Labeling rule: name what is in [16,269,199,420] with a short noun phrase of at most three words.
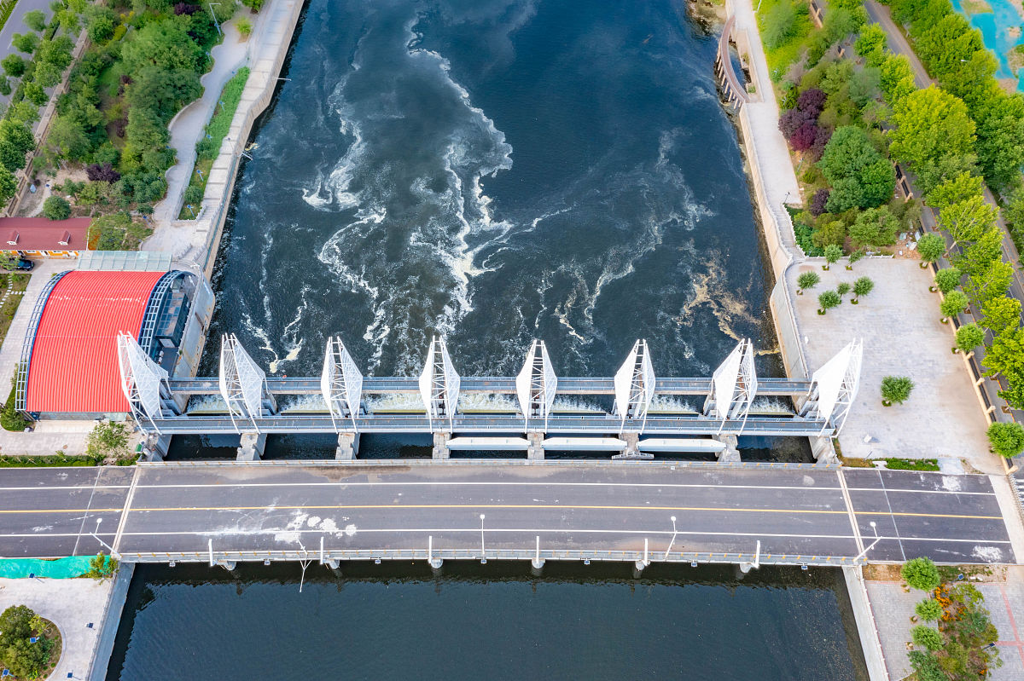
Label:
building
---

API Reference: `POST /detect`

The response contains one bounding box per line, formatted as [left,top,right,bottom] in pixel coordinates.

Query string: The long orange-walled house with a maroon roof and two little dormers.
[0,216,102,259]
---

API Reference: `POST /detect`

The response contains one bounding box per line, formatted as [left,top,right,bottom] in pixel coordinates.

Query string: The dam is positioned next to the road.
[124,375,835,463]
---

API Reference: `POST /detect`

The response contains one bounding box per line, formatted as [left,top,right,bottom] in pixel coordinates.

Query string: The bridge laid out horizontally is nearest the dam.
[109,457,867,577]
